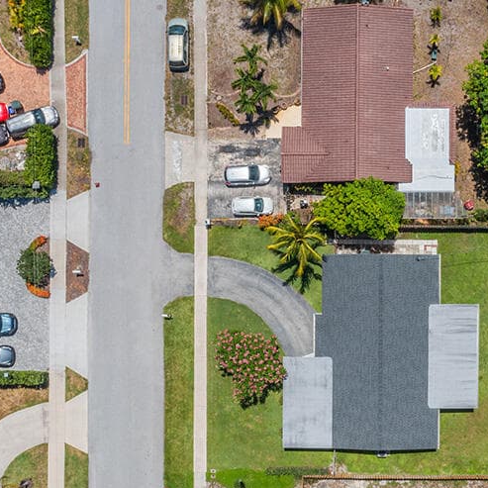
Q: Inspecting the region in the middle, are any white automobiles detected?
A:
Yes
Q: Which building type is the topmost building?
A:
residential house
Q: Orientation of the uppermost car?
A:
vertically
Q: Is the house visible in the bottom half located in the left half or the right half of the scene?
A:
right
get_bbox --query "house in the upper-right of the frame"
[280,1,467,222]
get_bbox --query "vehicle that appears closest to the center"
[231,193,275,217]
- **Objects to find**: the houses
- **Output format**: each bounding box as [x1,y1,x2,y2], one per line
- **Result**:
[282,253,480,458]
[280,1,467,222]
